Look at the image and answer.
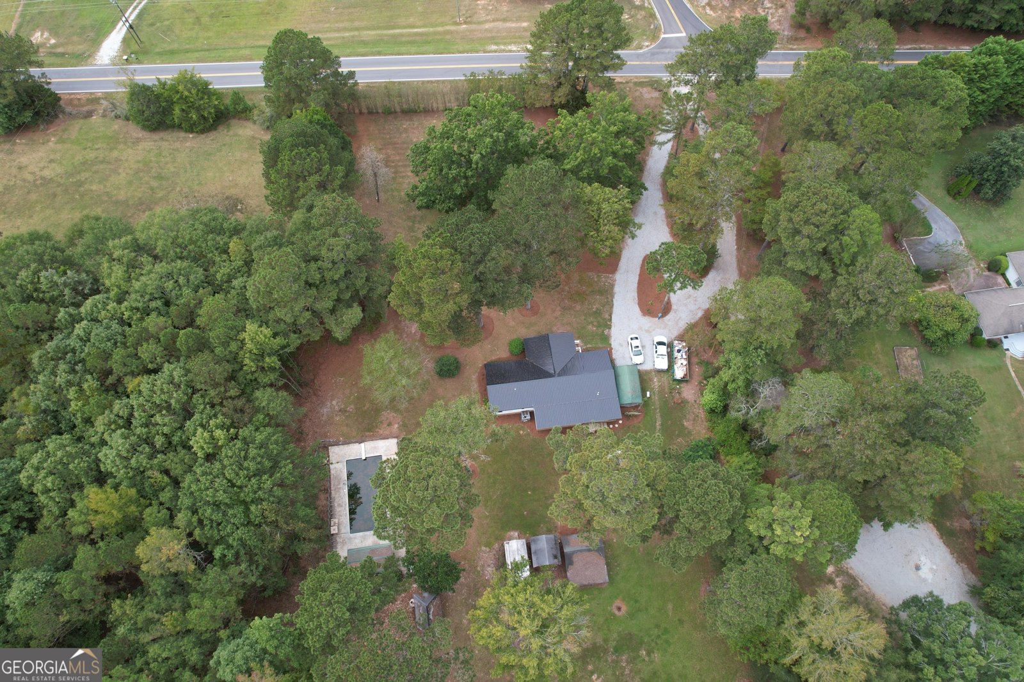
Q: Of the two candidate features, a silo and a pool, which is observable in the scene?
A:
pool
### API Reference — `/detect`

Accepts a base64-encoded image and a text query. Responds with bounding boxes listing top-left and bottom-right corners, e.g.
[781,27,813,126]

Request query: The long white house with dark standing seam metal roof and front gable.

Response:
[484,331,622,440]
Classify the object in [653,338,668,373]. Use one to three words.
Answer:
vehicle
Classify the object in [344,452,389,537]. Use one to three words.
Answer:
swimming pool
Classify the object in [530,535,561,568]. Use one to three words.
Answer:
shed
